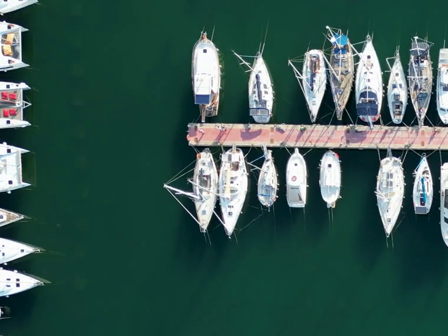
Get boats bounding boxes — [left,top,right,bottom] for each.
[438,161,448,242]
[293,33,329,131]
[0,207,34,230]
[0,143,38,195]
[406,35,435,132]
[0,238,42,264]
[253,146,281,215]
[323,22,356,128]
[353,26,385,129]
[411,147,435,230]
[171,143,220,244]
[0,269,61,297]
[191,27,222,123]
[375,151,406,242]
[193,141,251,246]
[0,80,49,133]
[240,44,274,131]
[319,146,345,218]
[0,0,42,17]
[386,41,408,130]
[434,44,448,130]
[0,21,52,77]
[283,147,309,216]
